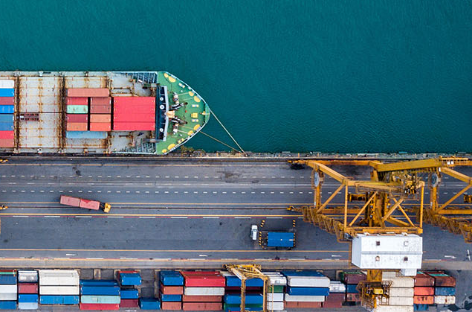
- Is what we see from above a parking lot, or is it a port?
port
